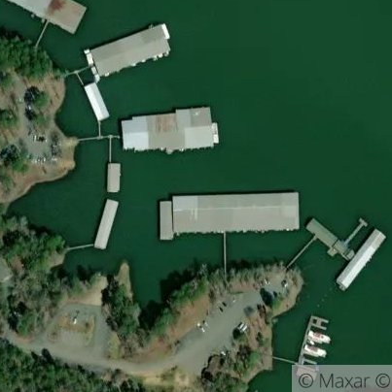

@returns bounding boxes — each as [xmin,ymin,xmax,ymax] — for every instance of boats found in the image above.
[304,346,326,356]
[309,333,329,342]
